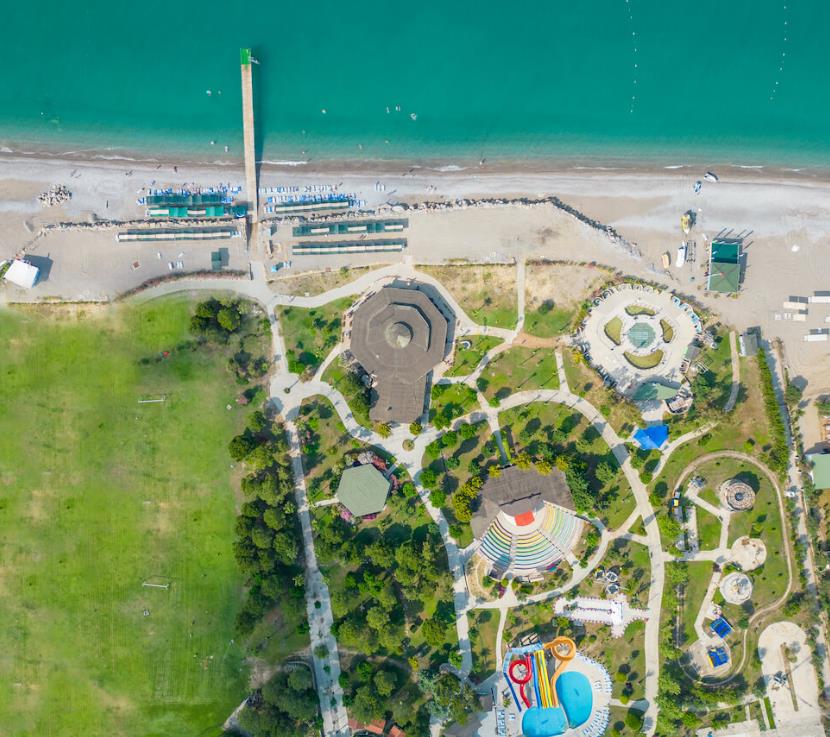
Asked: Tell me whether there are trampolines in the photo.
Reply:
Yes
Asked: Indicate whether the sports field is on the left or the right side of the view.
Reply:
left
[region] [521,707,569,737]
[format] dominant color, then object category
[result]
blue swimming pool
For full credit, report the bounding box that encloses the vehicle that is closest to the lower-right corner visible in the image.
[773,673,789,687]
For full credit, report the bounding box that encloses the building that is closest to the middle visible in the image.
[351,288,446,423]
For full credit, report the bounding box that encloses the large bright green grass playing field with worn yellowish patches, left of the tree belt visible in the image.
[0,290,246,737]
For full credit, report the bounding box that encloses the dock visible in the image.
[241,48,258,222]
